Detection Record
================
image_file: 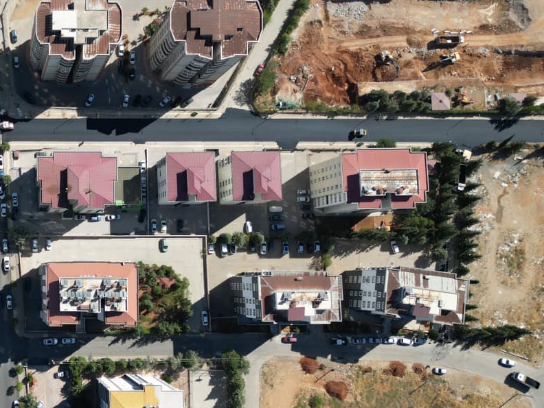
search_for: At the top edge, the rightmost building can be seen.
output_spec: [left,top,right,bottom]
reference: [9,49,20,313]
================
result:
[150,0,264,84]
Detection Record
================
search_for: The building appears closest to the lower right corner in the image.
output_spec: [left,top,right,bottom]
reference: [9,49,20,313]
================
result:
[347,266,470,326]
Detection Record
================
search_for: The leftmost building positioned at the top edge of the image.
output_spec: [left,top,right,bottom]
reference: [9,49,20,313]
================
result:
[32,0,122,84]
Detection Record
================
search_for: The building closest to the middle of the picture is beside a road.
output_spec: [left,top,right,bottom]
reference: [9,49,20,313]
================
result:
[220,151,281,205]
